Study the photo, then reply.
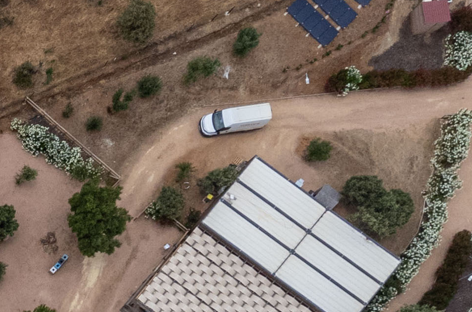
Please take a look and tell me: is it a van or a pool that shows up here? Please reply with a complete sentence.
Visible in the photo is a van.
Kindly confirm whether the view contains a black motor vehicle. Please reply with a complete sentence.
No, the photo shows no black motor vehicle.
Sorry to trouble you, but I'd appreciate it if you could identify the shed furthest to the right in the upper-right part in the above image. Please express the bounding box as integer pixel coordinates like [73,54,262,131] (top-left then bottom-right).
[408,0,450,39]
